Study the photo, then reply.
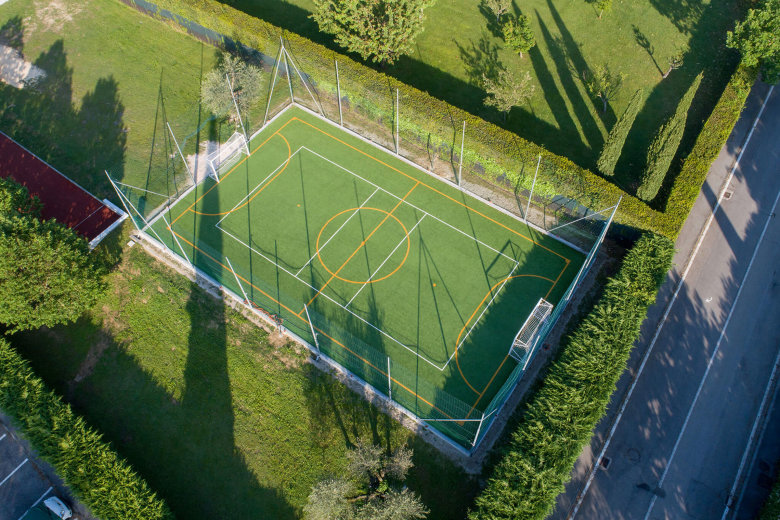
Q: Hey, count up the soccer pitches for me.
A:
1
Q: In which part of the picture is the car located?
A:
bottom left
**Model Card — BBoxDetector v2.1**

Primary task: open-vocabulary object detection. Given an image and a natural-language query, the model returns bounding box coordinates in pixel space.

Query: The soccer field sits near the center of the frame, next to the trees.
[136,99,599,462]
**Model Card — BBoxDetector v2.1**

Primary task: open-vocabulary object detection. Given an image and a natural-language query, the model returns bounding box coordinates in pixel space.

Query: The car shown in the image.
[20,499,71,520]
